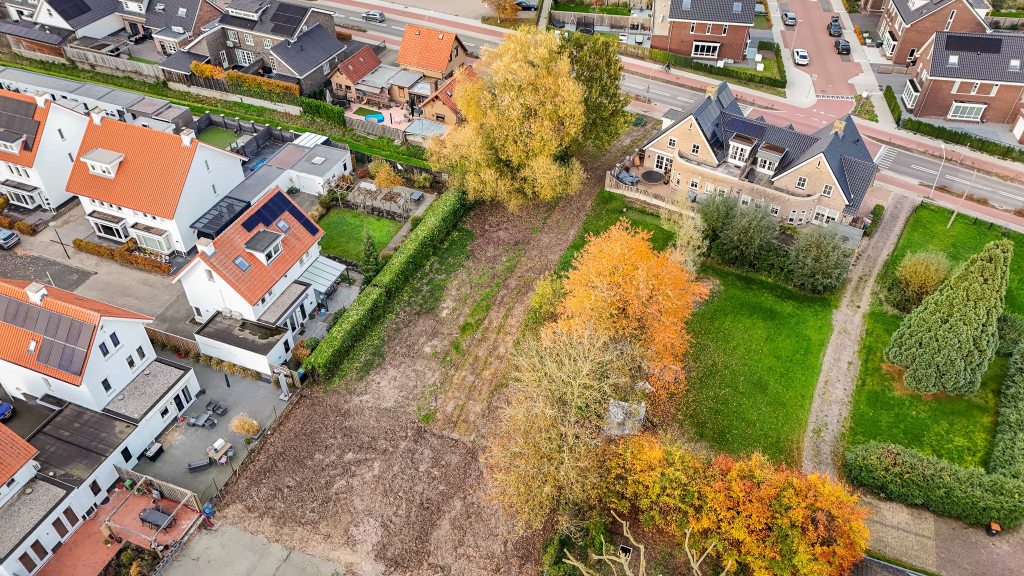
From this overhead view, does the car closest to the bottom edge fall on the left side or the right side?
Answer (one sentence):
You can find the car closest to the bottom edge on the left side of the picture.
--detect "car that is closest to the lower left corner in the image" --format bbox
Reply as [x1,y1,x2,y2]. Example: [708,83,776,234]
[0,396,26,421]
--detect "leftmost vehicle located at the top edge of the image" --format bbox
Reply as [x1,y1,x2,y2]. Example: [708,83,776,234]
[360,10,383,23]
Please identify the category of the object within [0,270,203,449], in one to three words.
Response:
house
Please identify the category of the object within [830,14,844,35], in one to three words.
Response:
car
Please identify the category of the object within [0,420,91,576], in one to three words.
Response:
house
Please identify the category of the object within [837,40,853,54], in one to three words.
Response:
car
